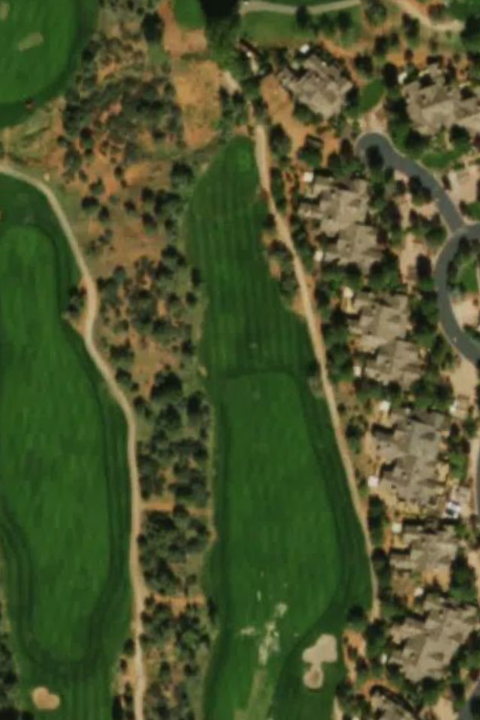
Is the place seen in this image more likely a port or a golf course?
golf course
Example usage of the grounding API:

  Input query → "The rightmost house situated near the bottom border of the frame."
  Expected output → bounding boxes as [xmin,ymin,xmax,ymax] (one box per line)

[397,596,480,687]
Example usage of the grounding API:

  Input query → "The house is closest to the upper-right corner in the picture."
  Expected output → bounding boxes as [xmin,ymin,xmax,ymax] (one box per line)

[399,60,480,136]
